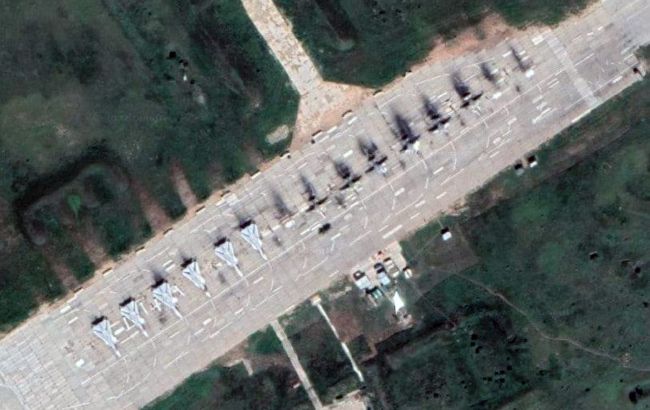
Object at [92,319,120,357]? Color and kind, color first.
white airplane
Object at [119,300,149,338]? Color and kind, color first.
white airplane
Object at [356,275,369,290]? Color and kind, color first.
white vehicle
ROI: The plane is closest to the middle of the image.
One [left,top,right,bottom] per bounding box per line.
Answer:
[305,197,329,223]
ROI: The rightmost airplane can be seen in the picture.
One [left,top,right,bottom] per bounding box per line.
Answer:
[460,95,484,120]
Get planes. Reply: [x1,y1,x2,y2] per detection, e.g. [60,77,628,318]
[92,319,120,357]
[305,197,329,223]
[340,176,364,200]
[215,239,243,277]
[180,260,211,297]
[398,138,421,162]
[119,300,149,338]
[153,282,183,319]
[240,222,268,261]
[460,95,484,120]
[364,159,388,183]
[428,117,453,142]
